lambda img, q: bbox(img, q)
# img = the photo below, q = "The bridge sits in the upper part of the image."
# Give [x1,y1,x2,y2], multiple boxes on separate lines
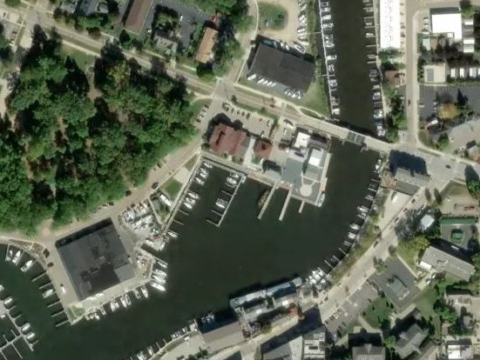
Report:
[327,122,382,152]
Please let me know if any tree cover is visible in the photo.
Yes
